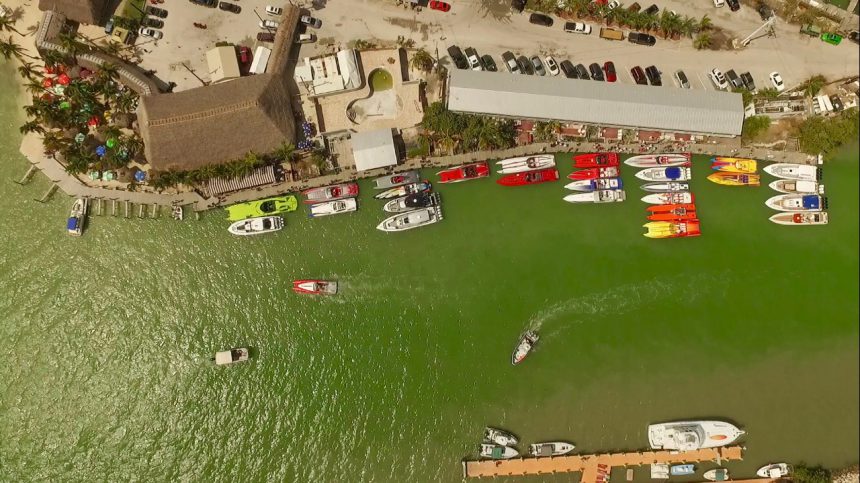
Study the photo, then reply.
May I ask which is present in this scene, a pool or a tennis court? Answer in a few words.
pool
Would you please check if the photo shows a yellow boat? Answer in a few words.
Yes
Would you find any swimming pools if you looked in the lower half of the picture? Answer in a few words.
No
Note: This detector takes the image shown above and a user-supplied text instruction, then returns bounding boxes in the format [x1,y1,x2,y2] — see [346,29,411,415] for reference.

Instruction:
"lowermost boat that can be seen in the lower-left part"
[208,349,249,365]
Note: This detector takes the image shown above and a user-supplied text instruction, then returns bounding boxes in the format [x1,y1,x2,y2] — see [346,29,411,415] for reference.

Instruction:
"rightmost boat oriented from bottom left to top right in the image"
[512,332,538,365]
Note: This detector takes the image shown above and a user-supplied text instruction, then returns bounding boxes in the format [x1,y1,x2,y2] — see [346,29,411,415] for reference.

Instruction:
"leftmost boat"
[64,199,86,234]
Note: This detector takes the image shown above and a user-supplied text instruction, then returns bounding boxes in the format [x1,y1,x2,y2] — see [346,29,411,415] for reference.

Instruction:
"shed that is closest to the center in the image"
[352,129,397,173]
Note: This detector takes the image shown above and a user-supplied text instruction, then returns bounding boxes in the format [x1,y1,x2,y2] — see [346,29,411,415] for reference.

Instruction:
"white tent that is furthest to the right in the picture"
[338,48,363,92]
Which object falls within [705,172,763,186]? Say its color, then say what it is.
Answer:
yellow boat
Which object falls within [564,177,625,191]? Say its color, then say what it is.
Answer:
white boat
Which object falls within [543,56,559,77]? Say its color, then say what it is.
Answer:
white car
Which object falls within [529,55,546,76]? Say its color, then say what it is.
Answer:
gray car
